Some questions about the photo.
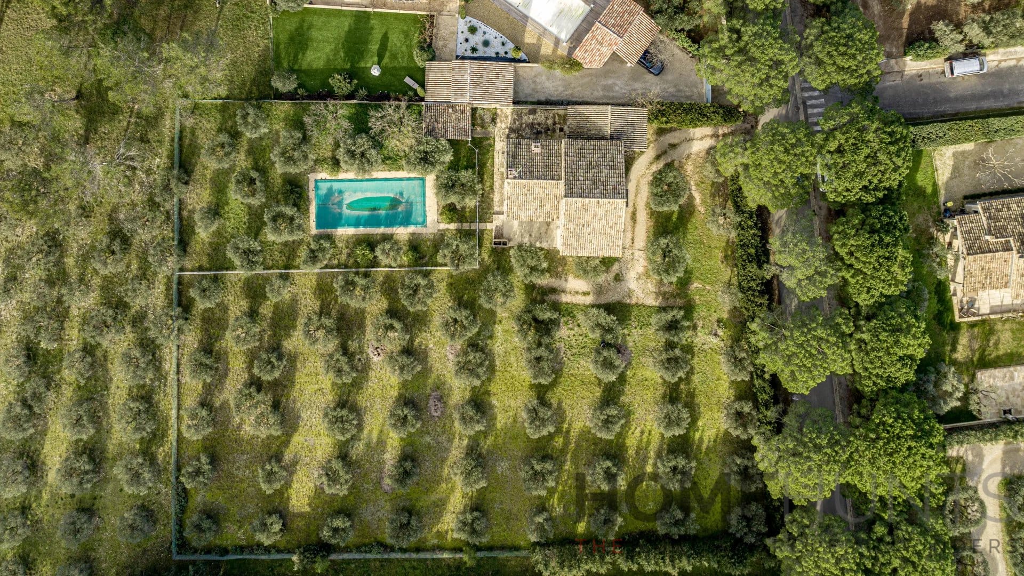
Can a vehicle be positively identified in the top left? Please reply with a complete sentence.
No, looking in the top left, there is no vehicle.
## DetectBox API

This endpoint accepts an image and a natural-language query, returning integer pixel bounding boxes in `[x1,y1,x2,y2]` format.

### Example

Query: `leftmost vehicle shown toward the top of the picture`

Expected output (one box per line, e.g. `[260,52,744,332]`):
[637,48,667,79]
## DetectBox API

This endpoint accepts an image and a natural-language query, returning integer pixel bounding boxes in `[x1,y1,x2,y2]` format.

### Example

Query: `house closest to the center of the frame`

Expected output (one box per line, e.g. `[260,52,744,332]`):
[493,139,631,257]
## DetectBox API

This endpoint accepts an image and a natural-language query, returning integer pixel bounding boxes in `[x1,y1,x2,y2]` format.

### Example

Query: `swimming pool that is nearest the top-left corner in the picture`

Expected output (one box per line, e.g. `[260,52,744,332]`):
[309,171,437,234]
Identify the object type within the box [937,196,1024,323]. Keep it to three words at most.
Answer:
house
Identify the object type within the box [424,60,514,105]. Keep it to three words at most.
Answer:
shed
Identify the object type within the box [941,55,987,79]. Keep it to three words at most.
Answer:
vehicle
